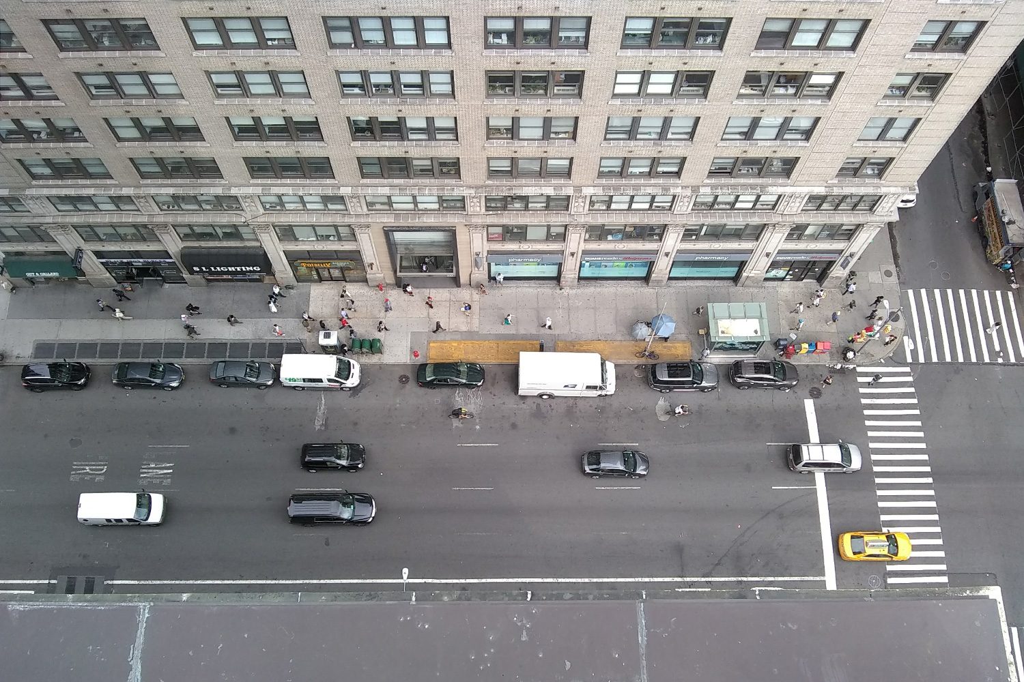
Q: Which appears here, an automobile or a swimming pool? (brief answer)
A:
automobile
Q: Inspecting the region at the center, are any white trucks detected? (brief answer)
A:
Yes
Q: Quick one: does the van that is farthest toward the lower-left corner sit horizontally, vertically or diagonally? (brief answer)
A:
horizontally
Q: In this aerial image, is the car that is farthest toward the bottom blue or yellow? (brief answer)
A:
yellow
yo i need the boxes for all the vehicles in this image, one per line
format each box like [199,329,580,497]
[516,354,617,399]
[209,357,278,389]
[277,352,362,390]
[417,357,485,388]
[835,527,912,562]
[72,489,169,526]
[111,357,187,390]
[287,487,377,525]
[19,358,94,391]
[727,356,799,390]
[976,184,1024,271]
[900,195,919,208]
[299,438,367,472]
[581,446,649,478]
[646,357,719,392]
[786,440,861,473]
